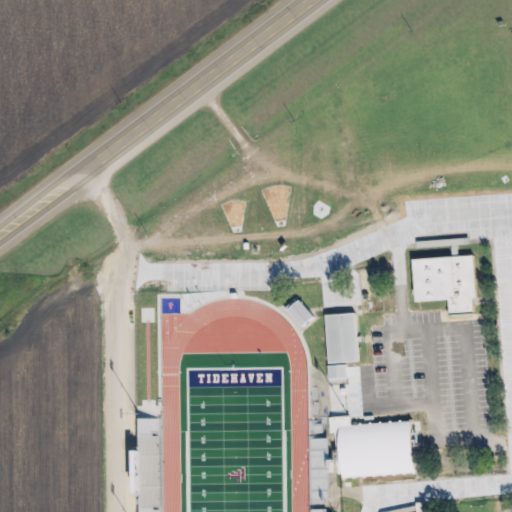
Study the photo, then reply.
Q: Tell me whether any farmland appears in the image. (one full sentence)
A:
Yes, some farmland is visible.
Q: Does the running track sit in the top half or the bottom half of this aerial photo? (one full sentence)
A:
The running track sits in the bottom half of the picture.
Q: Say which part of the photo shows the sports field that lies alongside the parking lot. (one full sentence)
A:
Look in the bottom portion of the view to spot the sports field that lies alongside the parking lot.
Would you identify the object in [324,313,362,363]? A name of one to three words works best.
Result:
barn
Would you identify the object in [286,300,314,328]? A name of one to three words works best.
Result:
building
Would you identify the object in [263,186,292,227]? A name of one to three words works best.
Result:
sports field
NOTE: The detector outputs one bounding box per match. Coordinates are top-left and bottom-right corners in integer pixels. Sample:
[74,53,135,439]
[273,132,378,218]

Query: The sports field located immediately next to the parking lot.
[180,354,292,512]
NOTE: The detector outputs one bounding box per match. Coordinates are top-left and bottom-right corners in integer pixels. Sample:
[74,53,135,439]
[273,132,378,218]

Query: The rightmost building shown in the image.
[412,255,476,314]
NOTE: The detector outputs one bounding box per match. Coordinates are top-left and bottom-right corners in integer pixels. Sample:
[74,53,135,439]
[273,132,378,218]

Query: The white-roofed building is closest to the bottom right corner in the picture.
[338,420,420,482]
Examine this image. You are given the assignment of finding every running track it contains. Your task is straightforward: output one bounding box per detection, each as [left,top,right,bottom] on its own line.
[162,298,309,512]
